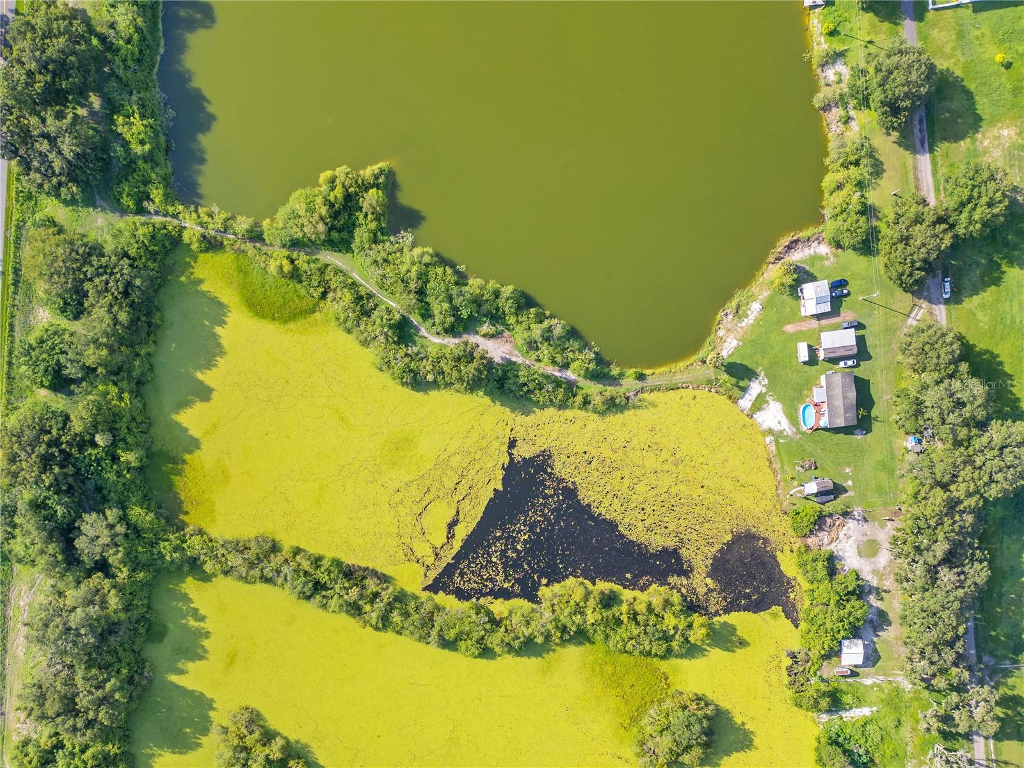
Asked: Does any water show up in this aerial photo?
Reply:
Yes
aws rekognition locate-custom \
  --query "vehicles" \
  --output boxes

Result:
[828,278,847,288]
[838,359,857,368]
[941,278,952,299]
[831,287,849,297]
[840,320,860,329]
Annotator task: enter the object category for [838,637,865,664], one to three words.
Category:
shed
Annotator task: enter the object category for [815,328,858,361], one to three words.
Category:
house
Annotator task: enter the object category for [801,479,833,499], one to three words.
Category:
house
